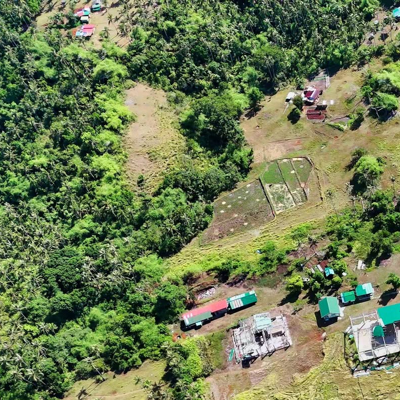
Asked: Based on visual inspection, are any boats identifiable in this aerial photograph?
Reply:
No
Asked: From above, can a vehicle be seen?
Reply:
No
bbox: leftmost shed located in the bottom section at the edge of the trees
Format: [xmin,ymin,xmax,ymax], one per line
[183,302,231,331]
